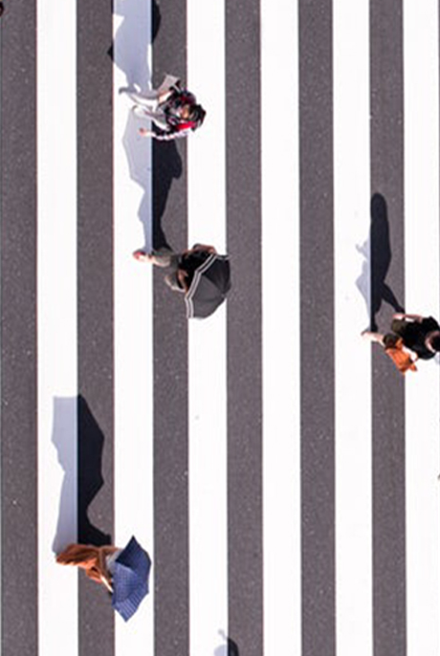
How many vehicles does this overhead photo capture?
0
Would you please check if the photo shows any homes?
No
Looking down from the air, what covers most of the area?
paved ground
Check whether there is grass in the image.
No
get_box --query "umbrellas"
[81,536,156,621]
[190,249,236,324]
